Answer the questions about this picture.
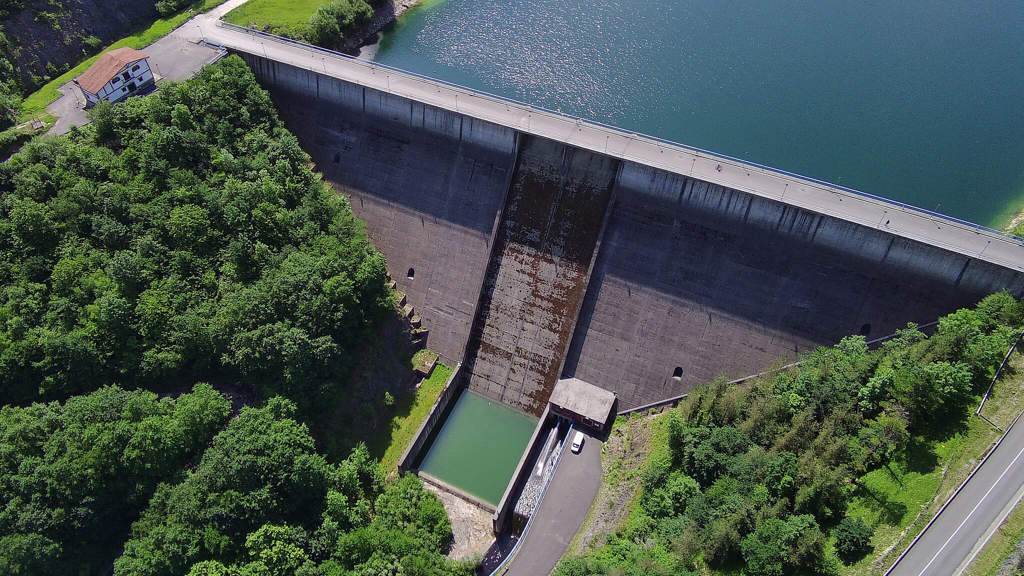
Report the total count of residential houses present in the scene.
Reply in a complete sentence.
The photo contains 2 residential houses.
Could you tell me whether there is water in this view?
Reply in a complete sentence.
Yes, the picture does contain water.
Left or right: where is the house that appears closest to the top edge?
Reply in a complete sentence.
The house that appears closest to the top edge is on the left side of the image.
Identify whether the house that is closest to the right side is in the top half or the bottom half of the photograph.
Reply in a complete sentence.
You can find the house that is closest to the right side in the bottom half.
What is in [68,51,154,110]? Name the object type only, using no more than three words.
house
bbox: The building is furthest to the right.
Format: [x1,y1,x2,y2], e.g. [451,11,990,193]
[549,381,617,430]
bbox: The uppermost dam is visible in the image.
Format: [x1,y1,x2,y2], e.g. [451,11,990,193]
[218,24,1024,424]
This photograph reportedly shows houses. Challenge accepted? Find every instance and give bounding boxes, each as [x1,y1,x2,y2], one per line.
[68,51,154,110]
[549,381,617,430]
